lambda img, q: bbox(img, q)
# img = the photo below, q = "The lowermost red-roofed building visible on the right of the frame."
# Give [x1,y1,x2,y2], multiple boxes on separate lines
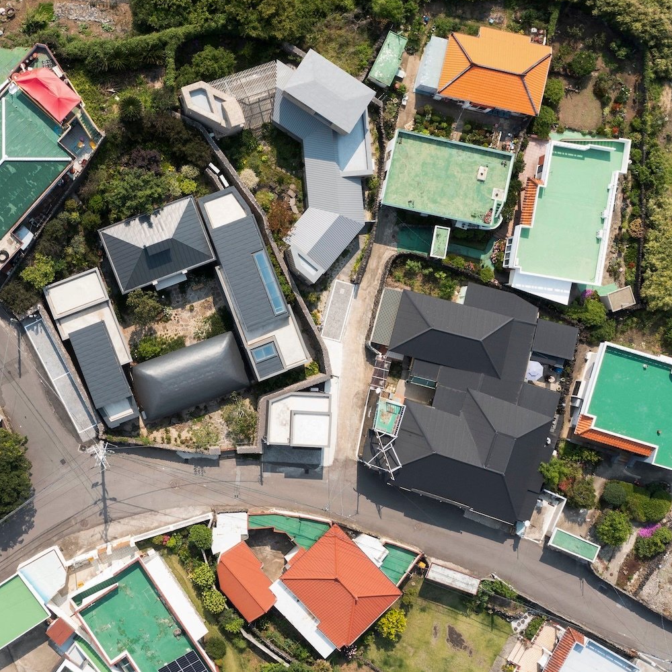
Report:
[531,621,581,672]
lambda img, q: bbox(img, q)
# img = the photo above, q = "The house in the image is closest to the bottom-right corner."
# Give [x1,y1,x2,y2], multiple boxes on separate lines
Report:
[563,635,640,672]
